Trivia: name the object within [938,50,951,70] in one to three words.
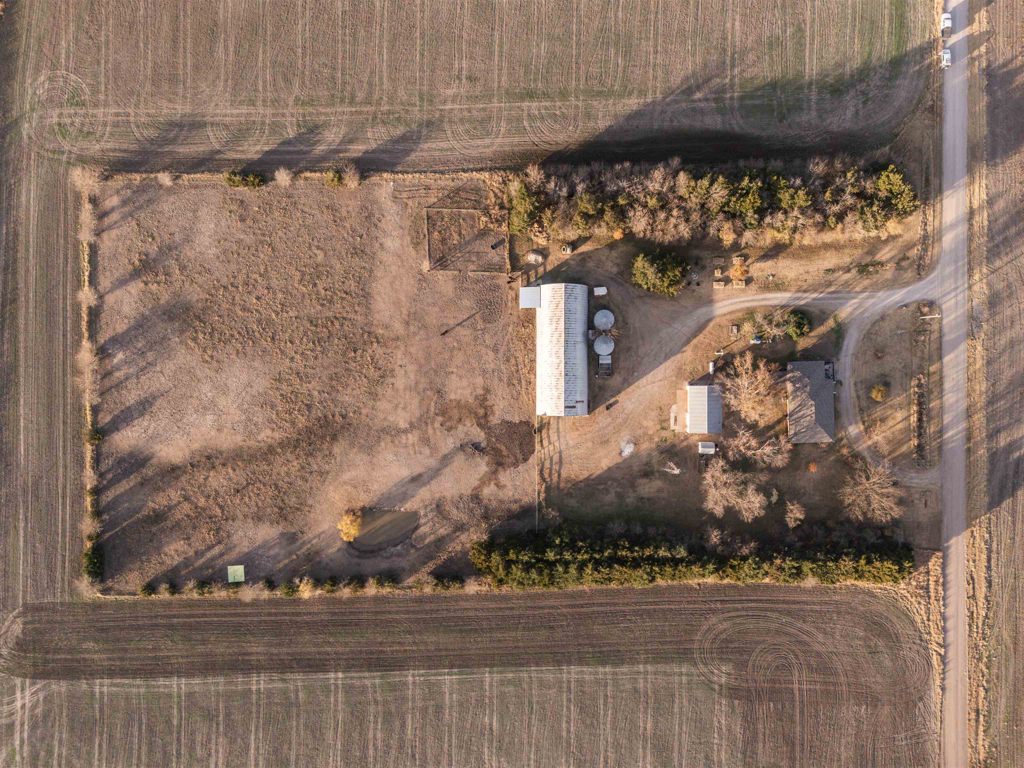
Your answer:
vehicle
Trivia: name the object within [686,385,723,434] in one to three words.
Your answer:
building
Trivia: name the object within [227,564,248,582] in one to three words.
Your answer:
shed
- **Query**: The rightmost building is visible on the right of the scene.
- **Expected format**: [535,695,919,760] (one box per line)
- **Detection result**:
[786,361,837,442]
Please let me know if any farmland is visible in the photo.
Yes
